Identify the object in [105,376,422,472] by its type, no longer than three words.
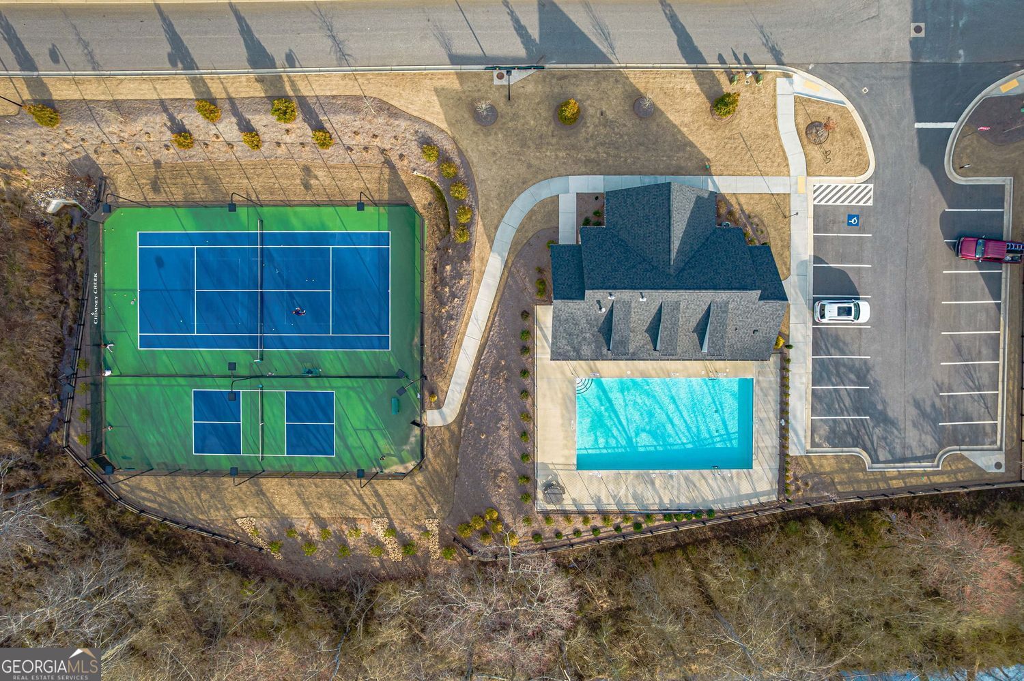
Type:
sports court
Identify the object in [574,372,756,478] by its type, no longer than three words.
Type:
swimming pool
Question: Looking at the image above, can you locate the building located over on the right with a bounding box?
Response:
[550,181,788,361]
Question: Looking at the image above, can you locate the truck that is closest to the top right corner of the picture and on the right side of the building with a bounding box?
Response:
[953,236,1024,264]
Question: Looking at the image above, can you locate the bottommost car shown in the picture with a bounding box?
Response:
[813,298,869,325]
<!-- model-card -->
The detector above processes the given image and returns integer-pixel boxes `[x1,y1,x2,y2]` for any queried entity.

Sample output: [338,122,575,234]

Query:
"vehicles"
[813,298,869,325]
[953,236,1024,264]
